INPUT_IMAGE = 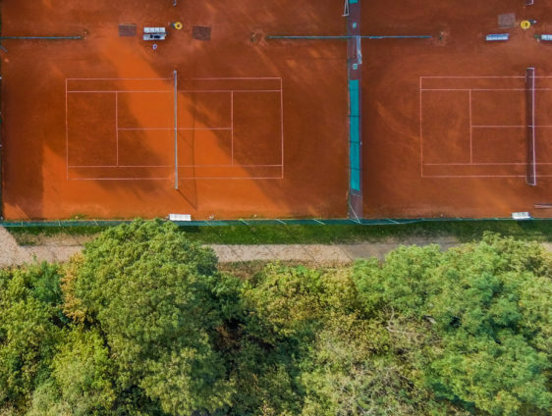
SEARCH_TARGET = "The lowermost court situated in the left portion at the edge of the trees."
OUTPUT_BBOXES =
[0,37,349,221]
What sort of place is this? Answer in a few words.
sports ground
